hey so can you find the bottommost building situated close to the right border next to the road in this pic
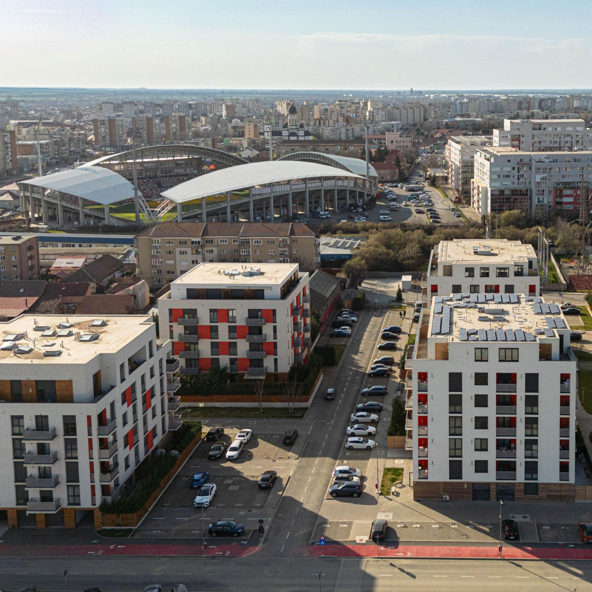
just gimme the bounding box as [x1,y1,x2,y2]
[400,294,580,502]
